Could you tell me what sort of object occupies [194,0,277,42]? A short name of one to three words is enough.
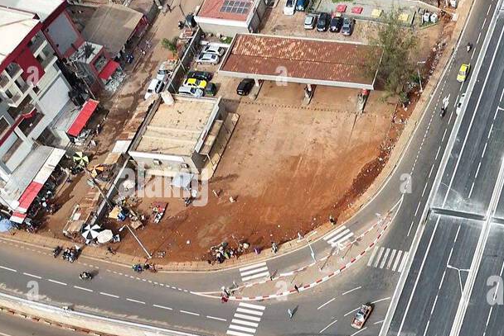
house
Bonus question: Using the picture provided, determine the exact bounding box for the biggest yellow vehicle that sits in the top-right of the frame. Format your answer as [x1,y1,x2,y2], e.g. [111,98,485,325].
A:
[457,63,470,83]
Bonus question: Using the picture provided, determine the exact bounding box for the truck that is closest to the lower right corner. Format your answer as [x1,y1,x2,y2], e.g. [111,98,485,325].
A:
[351,300,374,332]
